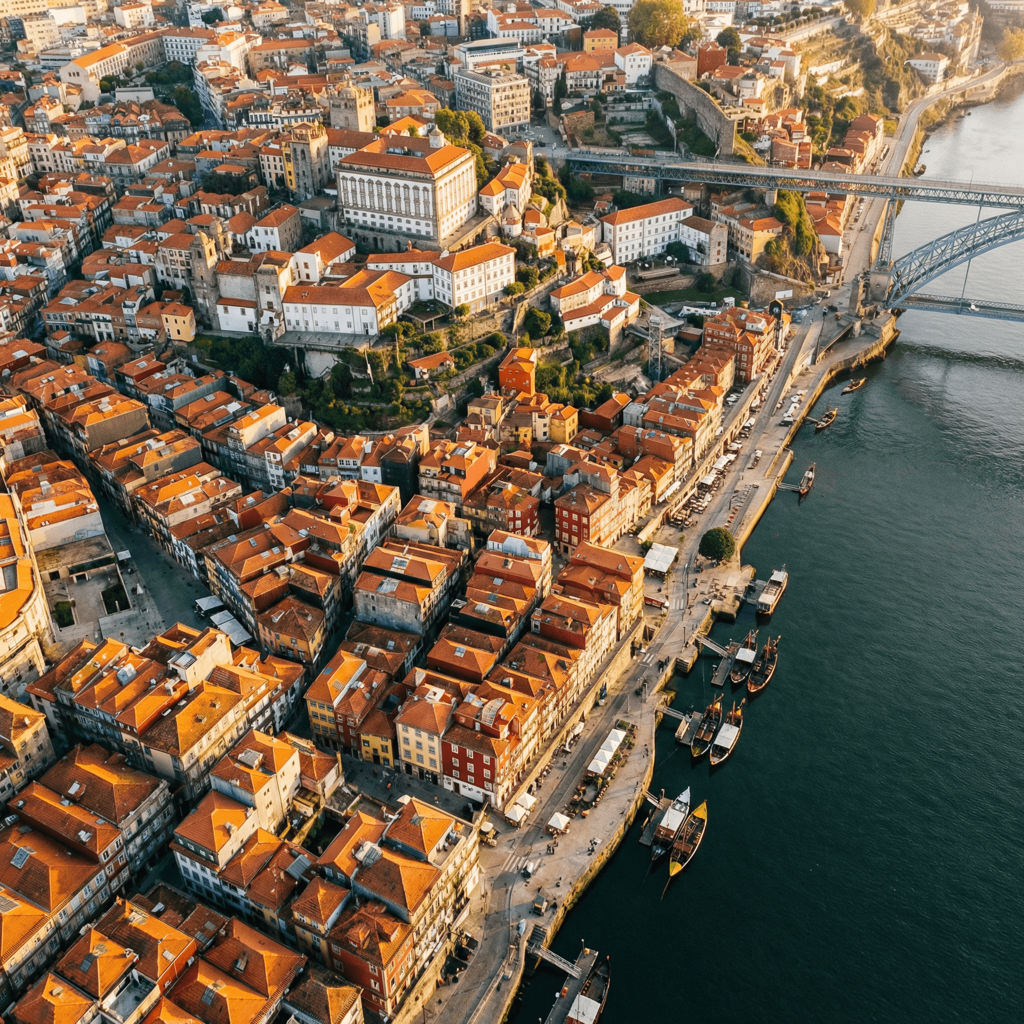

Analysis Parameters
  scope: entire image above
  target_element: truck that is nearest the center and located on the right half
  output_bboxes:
[639,587,673,611]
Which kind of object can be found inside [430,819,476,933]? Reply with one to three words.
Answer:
house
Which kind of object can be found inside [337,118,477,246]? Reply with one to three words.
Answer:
building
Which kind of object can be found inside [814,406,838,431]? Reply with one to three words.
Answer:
boat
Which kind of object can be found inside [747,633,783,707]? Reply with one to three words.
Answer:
boat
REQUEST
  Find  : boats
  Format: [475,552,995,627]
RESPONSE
[747,633,783,707]
[728,620,761,704]
[756,563,789,616]
[644,782,692,889]
[798,459,818,497]
[662,796,709,905]
[703,692,747,790]
[814,406,838,431]
[564,952,612,1024]
[687,688,726,781]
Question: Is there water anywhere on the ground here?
Yes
